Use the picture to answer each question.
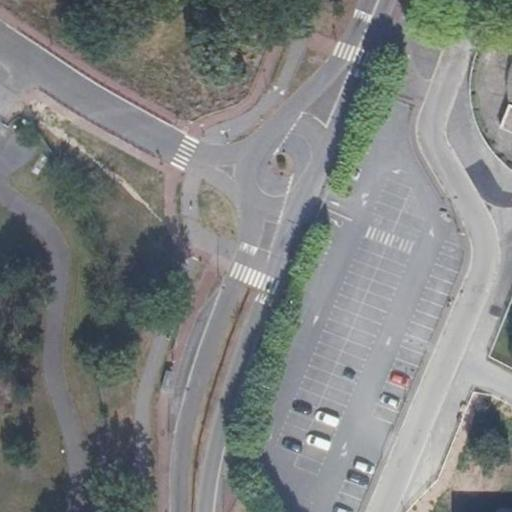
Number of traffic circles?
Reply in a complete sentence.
The count comes to 1 traffic circle.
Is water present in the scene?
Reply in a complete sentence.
No, no water is visible.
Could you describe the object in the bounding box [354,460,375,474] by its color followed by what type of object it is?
white car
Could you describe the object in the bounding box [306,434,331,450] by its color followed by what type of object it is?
white car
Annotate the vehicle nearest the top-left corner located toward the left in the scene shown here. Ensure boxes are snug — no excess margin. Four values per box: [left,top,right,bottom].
[31,155,47,174]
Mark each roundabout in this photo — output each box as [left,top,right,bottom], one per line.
[256,130,312,196]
